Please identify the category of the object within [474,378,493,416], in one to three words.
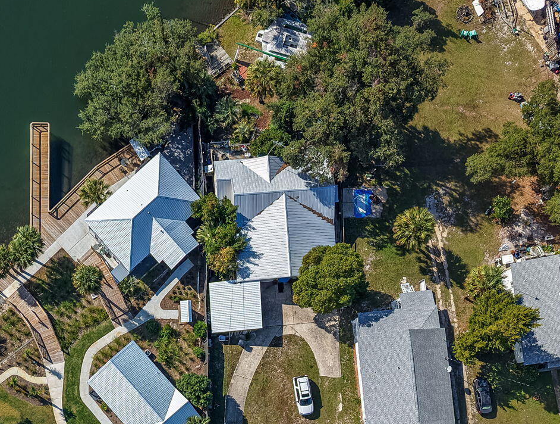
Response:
car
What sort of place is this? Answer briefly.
residential area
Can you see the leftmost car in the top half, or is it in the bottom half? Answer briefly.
bottom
